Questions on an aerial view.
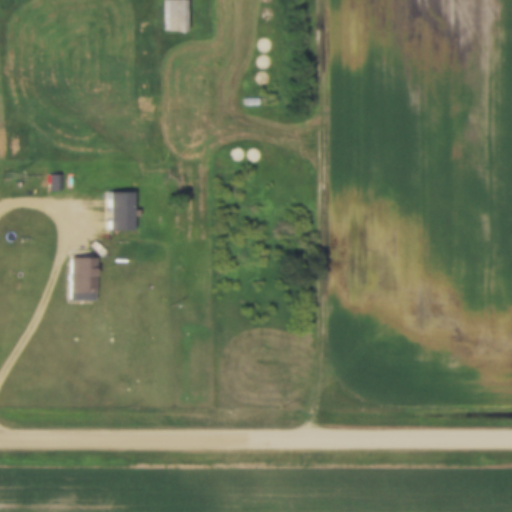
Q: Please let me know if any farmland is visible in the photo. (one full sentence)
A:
Yes, there is farmland in the image.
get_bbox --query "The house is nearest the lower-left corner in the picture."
[70,256,102,300]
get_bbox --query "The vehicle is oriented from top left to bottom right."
[92,242,106,258]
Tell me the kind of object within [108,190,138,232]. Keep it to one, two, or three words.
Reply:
shed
